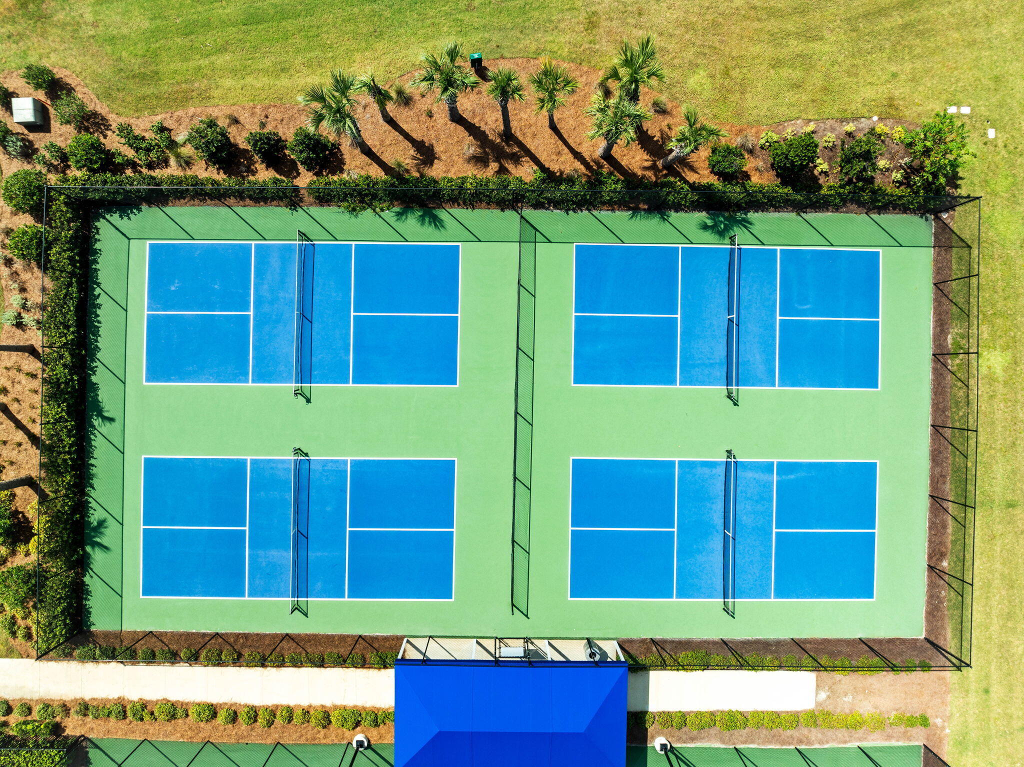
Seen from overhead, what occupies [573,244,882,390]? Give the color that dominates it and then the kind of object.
blue sports court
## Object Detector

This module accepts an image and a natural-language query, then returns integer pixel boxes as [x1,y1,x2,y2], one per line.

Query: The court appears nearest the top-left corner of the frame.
[145,241,459,386]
